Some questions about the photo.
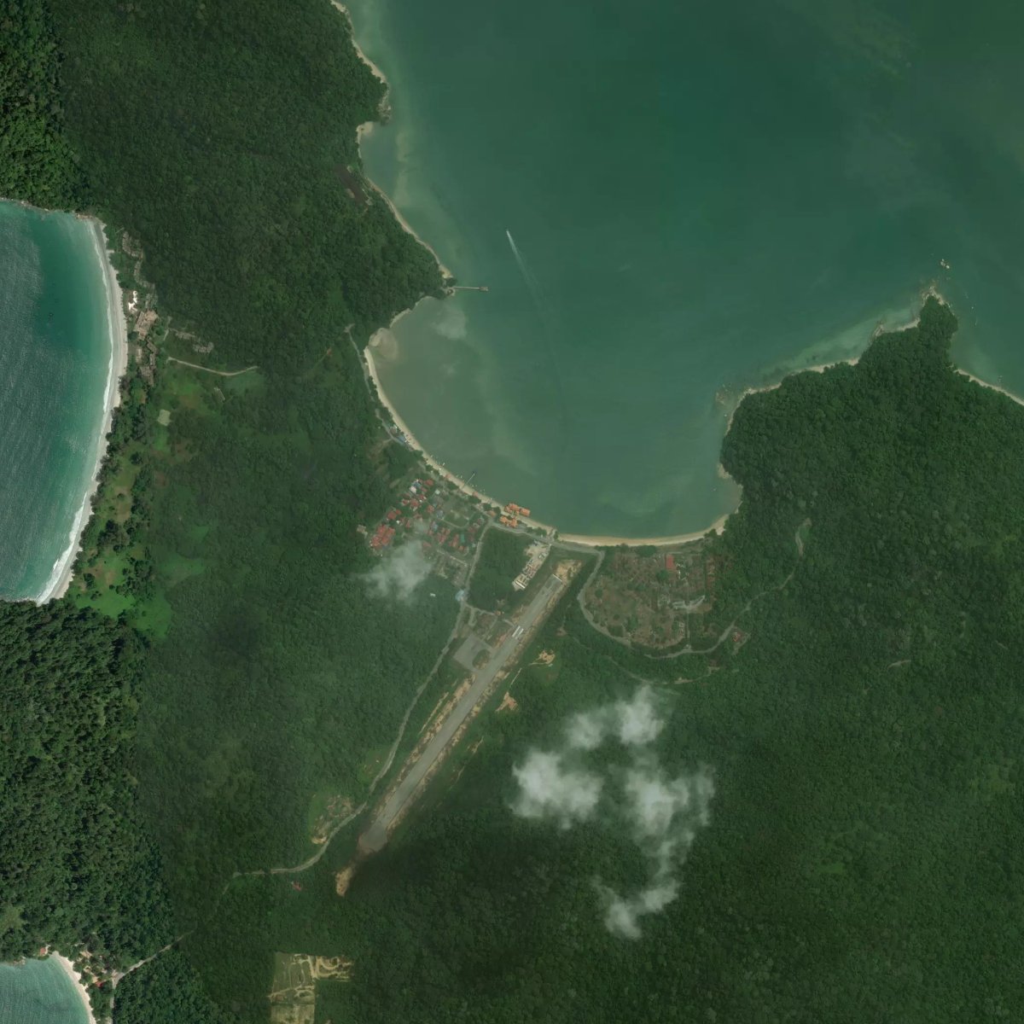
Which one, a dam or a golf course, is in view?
golf course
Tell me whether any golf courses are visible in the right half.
No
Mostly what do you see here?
trees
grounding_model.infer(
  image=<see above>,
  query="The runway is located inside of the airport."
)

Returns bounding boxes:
[375,575,562,833]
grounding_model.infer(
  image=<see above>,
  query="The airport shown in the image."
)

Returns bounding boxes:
[361,575,562,851]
